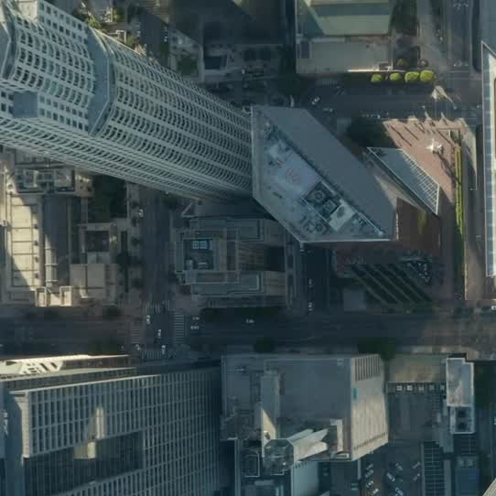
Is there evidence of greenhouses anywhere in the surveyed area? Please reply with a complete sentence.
Yes, the photo shows a greenhouse.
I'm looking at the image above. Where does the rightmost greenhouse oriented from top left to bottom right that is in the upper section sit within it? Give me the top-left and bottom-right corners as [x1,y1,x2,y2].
[368,147,442,215]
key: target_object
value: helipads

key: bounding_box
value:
[274,142,319,186]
